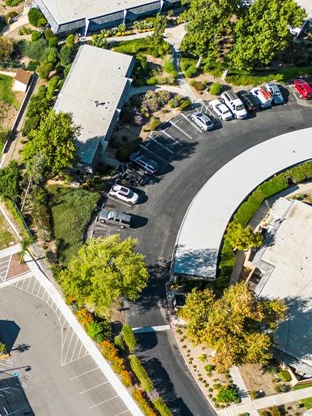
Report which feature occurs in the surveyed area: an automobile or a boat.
automobile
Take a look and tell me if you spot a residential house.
Yes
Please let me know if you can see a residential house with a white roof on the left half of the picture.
Yes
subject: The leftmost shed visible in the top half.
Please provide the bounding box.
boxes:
[11,68,35,91]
